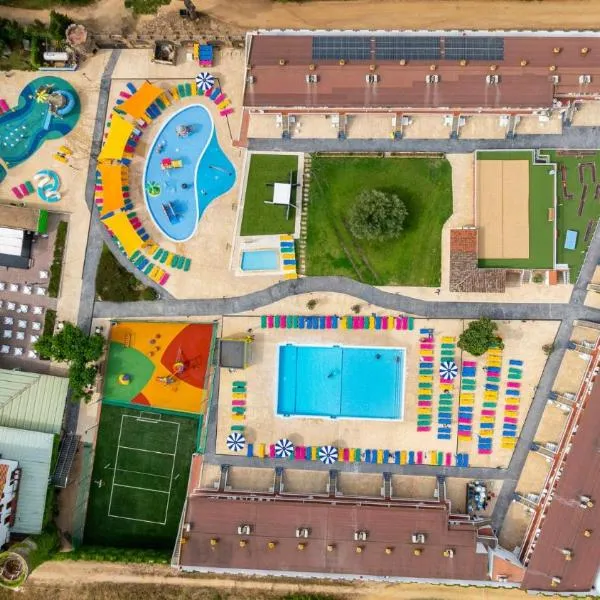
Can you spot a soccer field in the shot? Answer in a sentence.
Yes, there is a soccer field in the image.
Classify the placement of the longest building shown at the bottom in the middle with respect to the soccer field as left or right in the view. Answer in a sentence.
The longest building shown at the bottom in the middle appears to the right of the soccer field in this view.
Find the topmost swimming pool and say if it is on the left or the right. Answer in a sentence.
The topmost swimming pool appears in the left half of the scene.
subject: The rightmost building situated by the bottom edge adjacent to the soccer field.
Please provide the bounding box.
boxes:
[172,479,493,587]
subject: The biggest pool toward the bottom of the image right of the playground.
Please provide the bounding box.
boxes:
[274,342,407,422]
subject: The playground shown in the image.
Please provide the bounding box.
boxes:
[105,322,212,408]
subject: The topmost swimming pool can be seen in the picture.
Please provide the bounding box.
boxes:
[0,76,80,169]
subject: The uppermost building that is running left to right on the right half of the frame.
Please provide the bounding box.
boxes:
[243,31,600,115]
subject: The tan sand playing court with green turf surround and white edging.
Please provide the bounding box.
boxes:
[476,149,558,269]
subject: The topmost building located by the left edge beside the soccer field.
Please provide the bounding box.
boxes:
[0,364,77,434]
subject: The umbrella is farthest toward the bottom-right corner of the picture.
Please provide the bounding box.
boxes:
[439,362,457,379]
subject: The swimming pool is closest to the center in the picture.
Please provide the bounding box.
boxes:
[239,248,281,272]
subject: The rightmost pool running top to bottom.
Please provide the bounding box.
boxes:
[199,131,236,217]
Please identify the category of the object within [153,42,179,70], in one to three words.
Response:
shed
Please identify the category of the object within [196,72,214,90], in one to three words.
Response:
umbrella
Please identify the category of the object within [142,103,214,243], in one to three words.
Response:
swimming pool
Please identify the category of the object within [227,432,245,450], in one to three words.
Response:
umbrella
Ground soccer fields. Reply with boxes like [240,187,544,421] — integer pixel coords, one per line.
[84,410,203,550]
